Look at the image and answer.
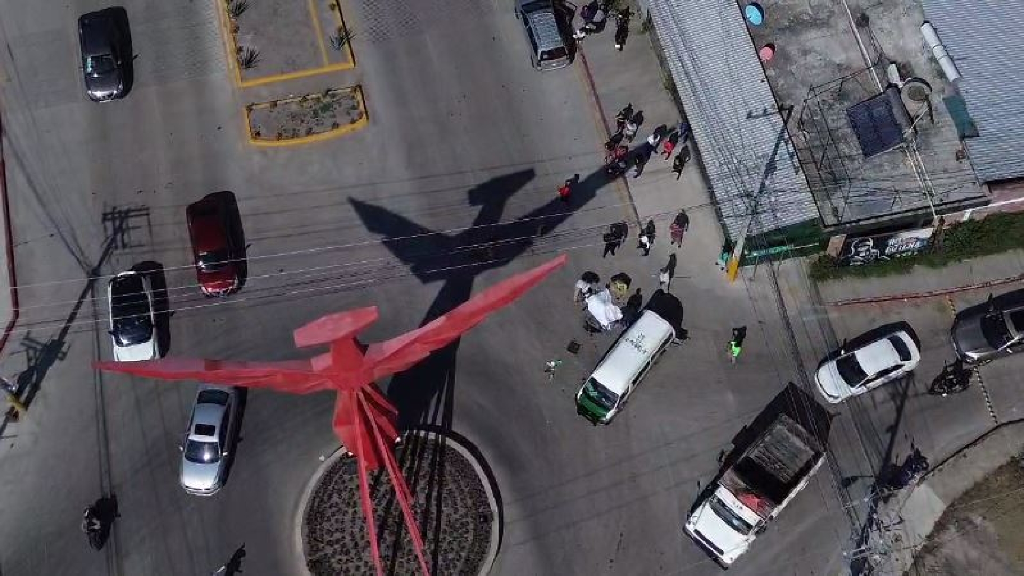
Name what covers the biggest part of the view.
paved ground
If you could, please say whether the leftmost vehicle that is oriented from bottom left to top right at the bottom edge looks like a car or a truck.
truck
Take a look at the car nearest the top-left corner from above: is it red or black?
black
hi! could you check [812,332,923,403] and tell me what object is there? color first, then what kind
white car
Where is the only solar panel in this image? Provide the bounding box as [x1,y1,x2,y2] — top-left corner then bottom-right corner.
[847,88,905,162]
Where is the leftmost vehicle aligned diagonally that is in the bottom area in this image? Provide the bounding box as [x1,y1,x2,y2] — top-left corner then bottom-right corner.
[576,307,685,431]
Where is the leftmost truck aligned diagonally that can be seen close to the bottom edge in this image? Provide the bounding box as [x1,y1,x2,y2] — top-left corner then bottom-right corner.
[682,386,835,568]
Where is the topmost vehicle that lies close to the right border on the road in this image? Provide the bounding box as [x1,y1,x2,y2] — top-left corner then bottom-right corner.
[946,298,1024,367]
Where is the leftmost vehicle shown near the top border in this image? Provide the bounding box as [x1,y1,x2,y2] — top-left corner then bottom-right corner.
[79,21,129,105]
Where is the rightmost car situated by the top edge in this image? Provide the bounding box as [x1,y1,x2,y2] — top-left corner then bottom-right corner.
[516,0,576,75]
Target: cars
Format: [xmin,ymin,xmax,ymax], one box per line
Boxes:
[79,21,129,105]
[105,277,161,365]
[187,206,241,300]
[516,0,576,75]
[946,298,1024,367]
[177,389,236,497]
[812,332,923,403]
